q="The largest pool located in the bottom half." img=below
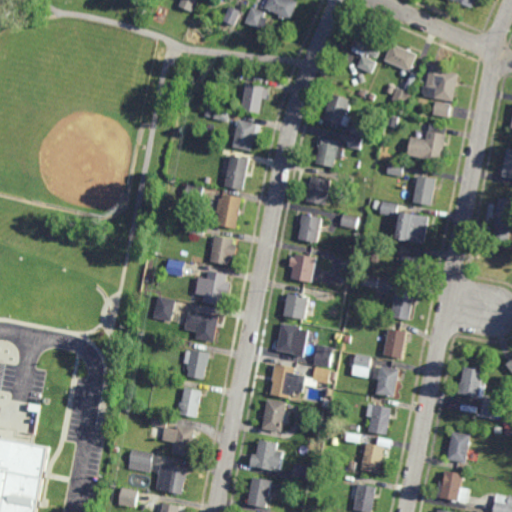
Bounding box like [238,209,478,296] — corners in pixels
[129,474,151,488]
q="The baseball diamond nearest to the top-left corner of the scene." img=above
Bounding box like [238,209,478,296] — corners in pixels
[0,22,153,213]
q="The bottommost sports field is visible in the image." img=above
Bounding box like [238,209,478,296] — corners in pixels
[0,247,102,329]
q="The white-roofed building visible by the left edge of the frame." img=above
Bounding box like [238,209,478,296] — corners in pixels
[0,440,50,512]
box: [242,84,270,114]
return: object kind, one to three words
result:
house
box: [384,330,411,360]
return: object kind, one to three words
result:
house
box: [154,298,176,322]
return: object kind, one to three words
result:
building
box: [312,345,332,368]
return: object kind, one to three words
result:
building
